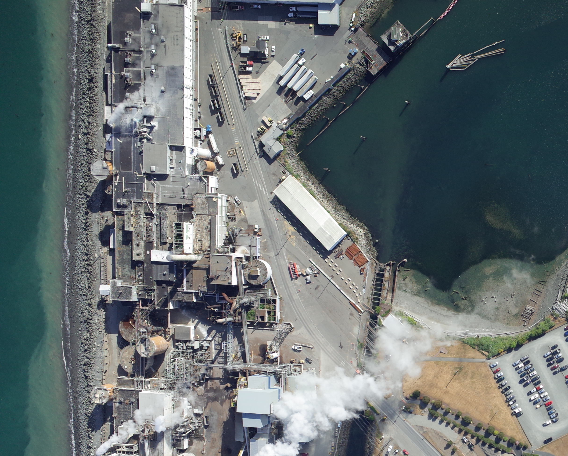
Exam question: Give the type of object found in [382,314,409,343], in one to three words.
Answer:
building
